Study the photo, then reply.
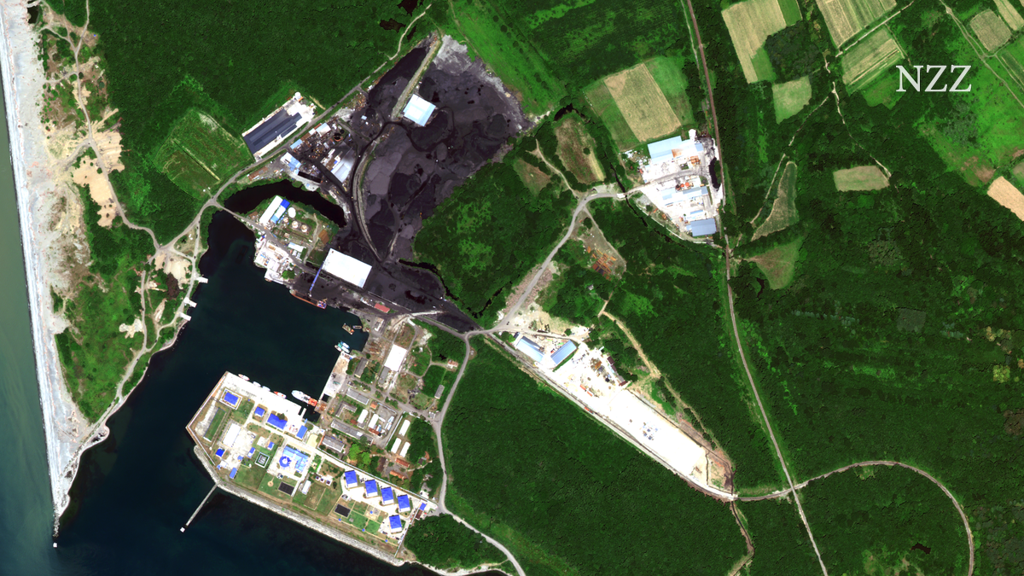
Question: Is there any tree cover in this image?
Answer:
Yes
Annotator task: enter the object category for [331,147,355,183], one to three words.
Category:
building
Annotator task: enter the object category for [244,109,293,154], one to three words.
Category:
building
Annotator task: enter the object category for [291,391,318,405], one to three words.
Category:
ship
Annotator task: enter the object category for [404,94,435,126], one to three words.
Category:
shed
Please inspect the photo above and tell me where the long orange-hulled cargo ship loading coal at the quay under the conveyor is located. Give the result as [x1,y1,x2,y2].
[290,290,327,308]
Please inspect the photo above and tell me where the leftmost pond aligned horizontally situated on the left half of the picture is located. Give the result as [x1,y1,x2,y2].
[225,179,346,228]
